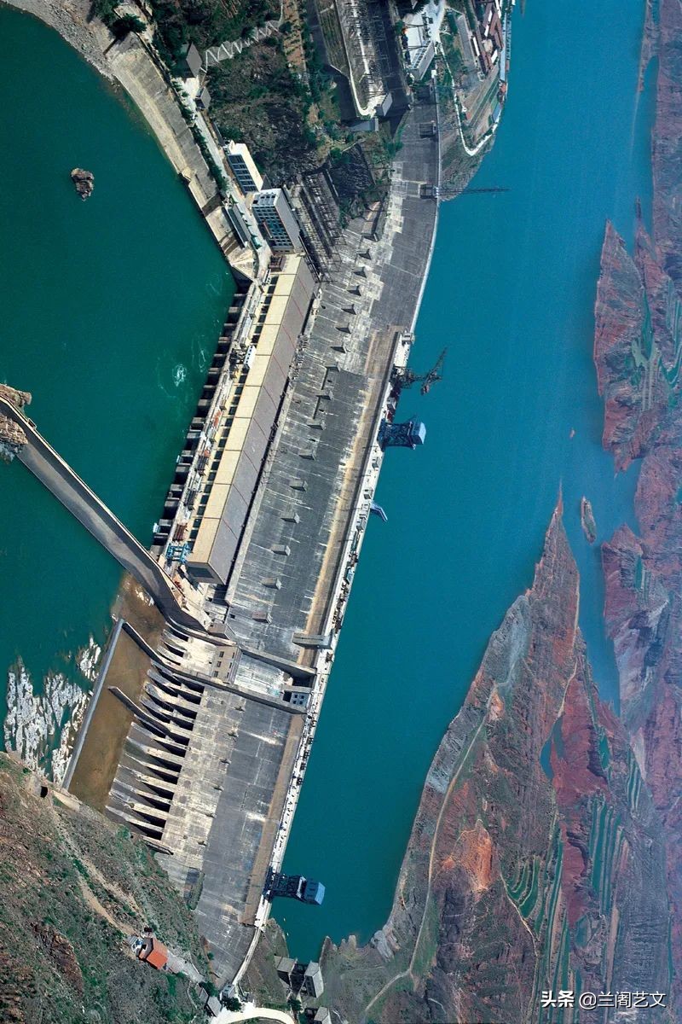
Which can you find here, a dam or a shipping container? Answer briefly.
dam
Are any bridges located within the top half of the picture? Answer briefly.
No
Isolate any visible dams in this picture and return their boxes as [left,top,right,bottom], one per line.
[101,72,441,984]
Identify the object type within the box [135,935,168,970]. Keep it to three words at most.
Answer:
house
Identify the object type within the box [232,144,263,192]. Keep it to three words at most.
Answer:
building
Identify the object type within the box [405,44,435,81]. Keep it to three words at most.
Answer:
building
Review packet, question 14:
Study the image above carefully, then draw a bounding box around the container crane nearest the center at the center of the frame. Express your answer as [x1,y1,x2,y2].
[370,413,417,448]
